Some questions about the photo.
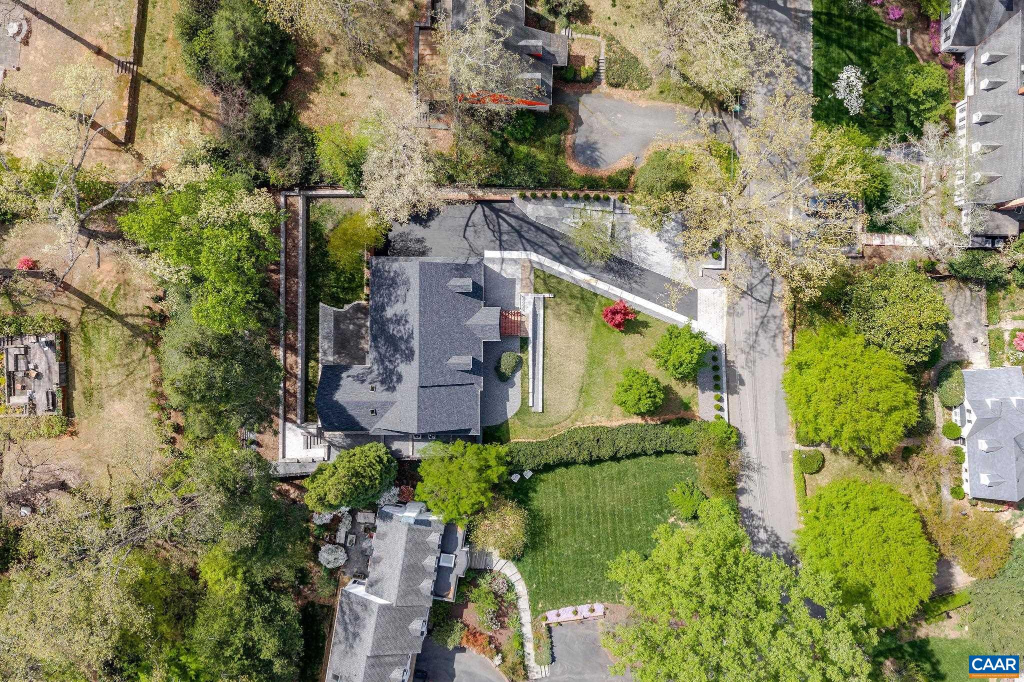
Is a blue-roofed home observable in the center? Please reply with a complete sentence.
No, I see no blue-roofed home in the center.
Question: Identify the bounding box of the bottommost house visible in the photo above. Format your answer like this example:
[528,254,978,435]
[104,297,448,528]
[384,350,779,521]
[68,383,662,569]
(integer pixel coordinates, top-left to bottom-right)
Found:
[324,499,472,682]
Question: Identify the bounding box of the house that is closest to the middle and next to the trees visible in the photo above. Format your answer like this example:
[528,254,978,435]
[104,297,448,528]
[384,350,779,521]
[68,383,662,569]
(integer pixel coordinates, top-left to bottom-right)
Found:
[315,257,500,437]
